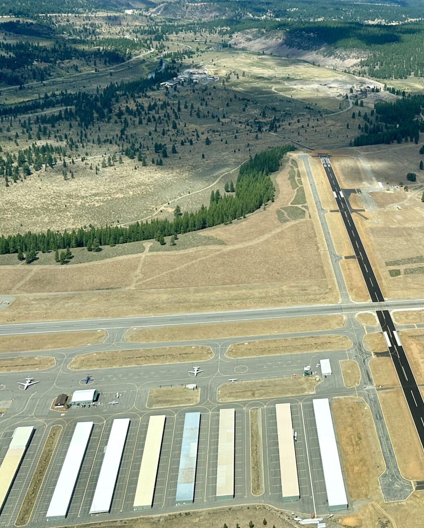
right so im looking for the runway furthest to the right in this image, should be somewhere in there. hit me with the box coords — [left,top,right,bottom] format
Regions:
[320,156,424,450]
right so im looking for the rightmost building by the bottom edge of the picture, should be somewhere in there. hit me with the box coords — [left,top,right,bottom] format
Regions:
[313,398,347,511]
